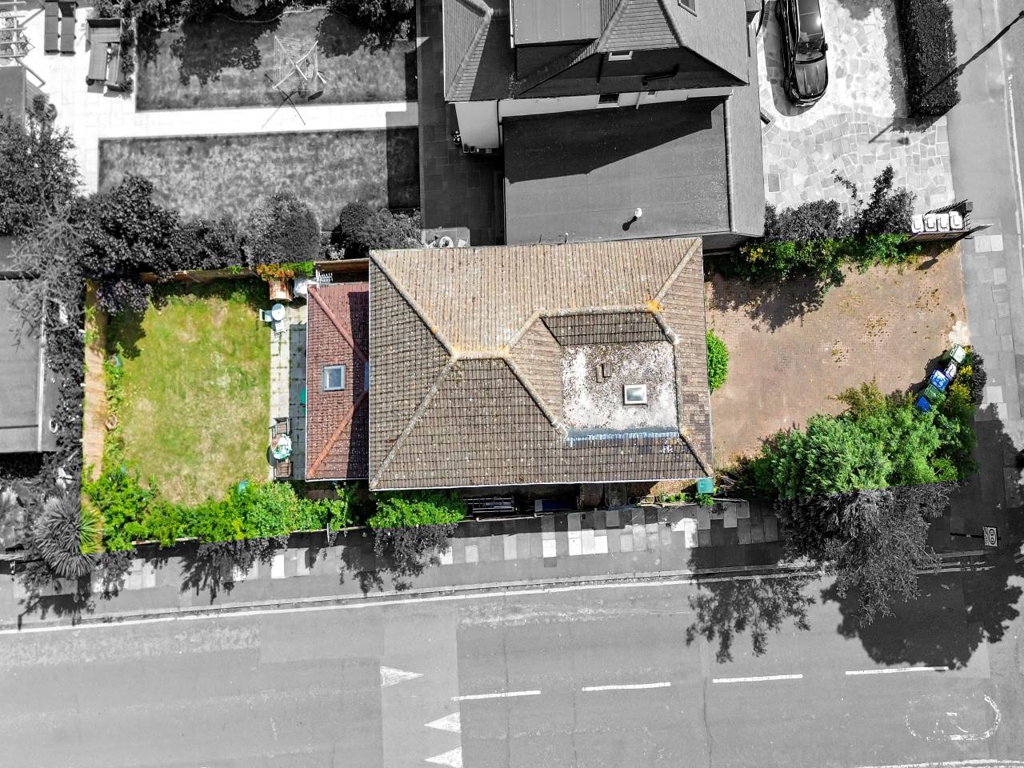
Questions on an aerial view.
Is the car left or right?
right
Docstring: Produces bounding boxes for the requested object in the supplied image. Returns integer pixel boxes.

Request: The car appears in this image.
[779,0,838,106]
